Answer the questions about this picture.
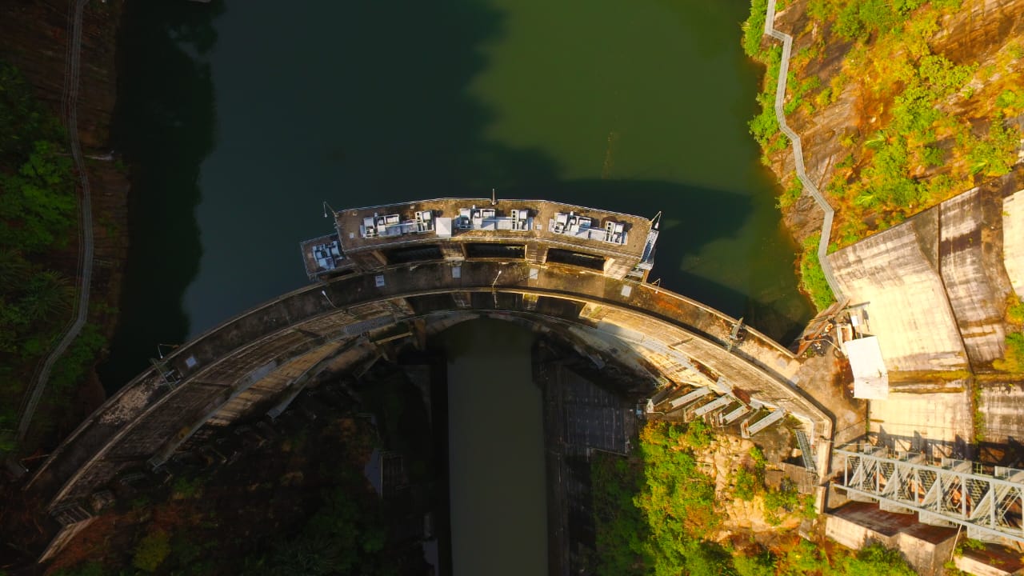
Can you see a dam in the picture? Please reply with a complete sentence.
Yes, the frame does contain a dam.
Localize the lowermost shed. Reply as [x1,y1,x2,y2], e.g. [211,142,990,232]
[839,336,888,399]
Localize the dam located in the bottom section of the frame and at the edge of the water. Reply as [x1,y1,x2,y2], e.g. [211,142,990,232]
[27,258,834,562]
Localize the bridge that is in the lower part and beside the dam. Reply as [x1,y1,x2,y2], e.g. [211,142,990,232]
[811,442,1024,547]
